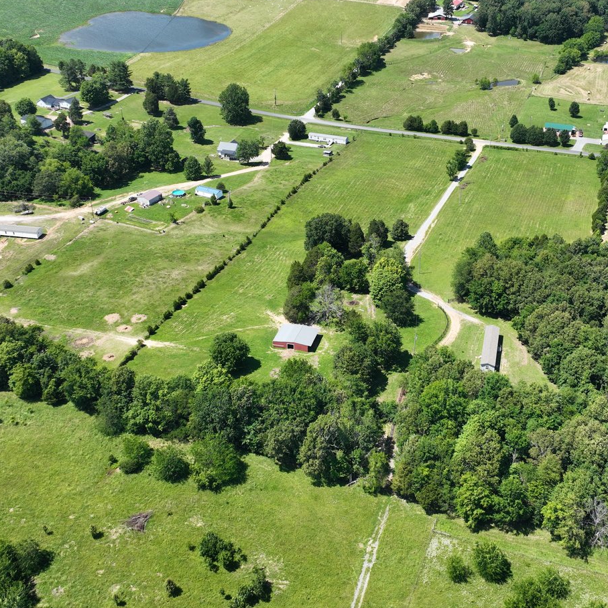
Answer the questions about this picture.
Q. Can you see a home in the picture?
Yes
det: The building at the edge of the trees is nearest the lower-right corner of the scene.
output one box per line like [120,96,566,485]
[477,322,507,371]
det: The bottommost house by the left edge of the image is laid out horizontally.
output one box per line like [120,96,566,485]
[0,223,44,238]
